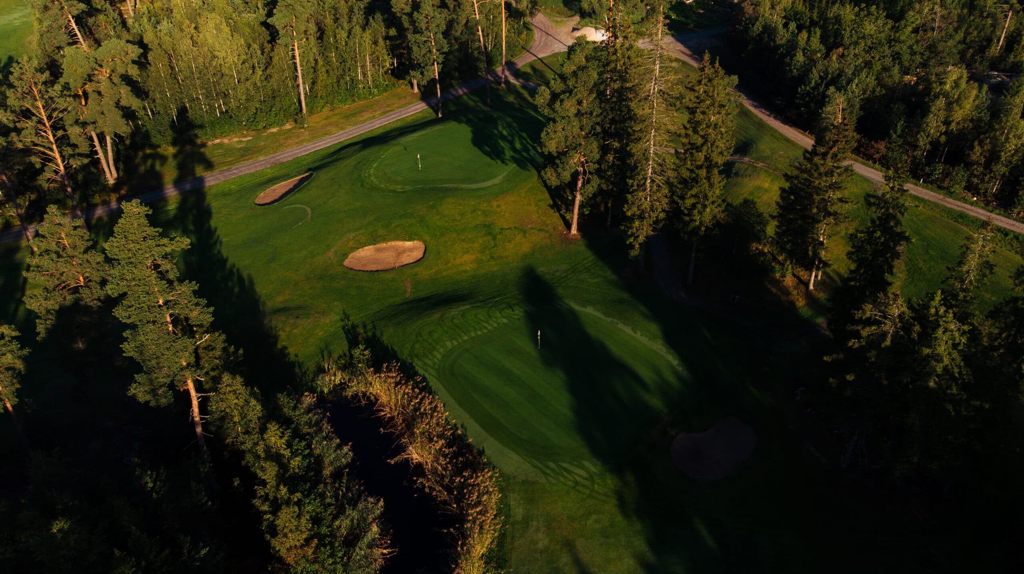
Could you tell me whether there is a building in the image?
No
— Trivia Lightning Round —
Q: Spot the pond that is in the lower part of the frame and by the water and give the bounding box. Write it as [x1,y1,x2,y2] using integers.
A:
[318,391,462,574]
